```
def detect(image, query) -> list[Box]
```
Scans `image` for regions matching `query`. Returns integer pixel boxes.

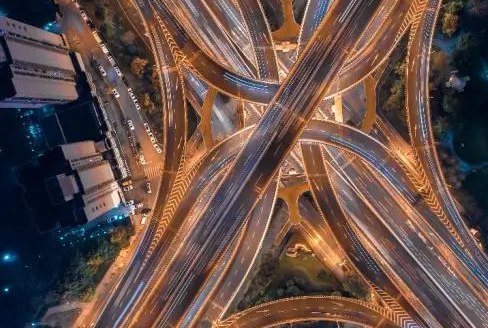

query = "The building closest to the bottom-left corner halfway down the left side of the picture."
[3,141,125,247]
